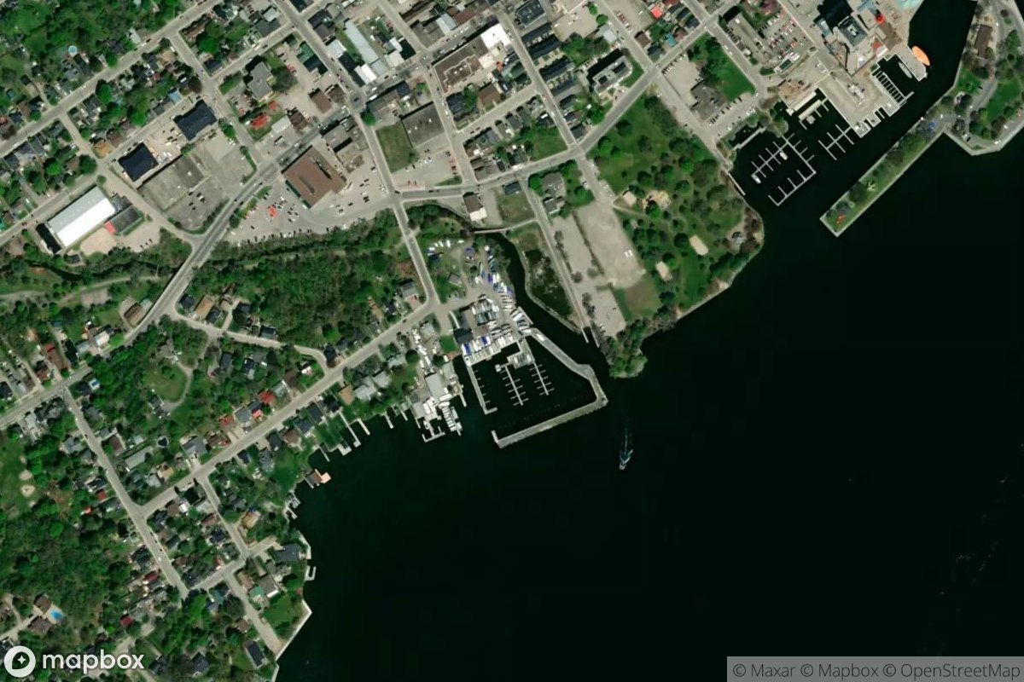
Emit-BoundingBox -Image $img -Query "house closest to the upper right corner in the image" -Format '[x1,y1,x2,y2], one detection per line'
[976,24,991,56]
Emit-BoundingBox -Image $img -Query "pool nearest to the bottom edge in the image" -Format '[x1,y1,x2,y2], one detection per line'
[47,606,66,624]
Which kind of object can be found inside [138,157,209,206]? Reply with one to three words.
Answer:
building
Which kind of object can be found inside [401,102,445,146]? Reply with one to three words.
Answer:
building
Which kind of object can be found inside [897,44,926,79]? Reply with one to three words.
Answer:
pier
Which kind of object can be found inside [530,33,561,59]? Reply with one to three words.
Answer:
house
